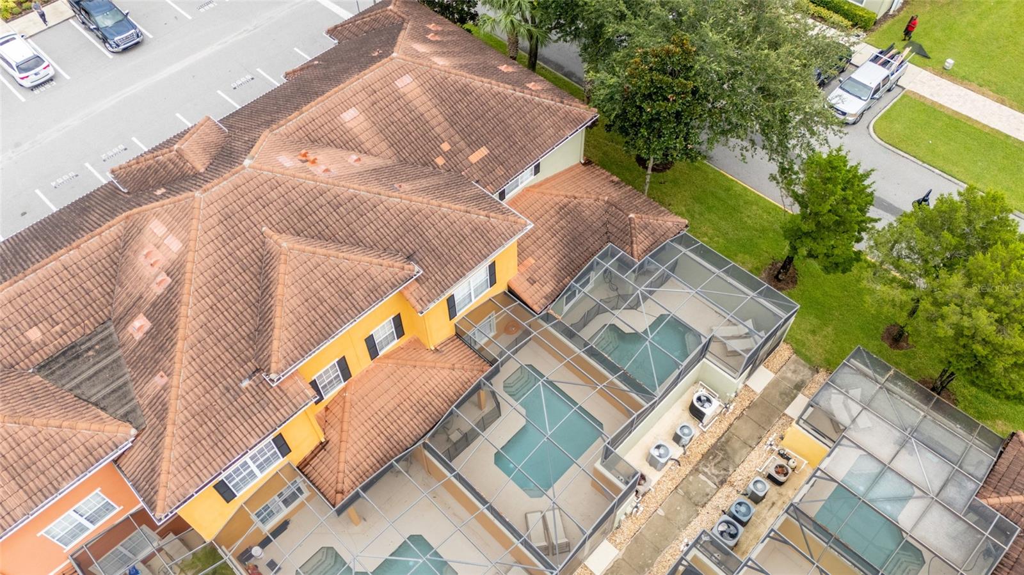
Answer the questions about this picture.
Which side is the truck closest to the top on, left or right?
left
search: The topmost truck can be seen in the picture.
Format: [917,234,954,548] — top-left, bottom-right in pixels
[72,0,144,50]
